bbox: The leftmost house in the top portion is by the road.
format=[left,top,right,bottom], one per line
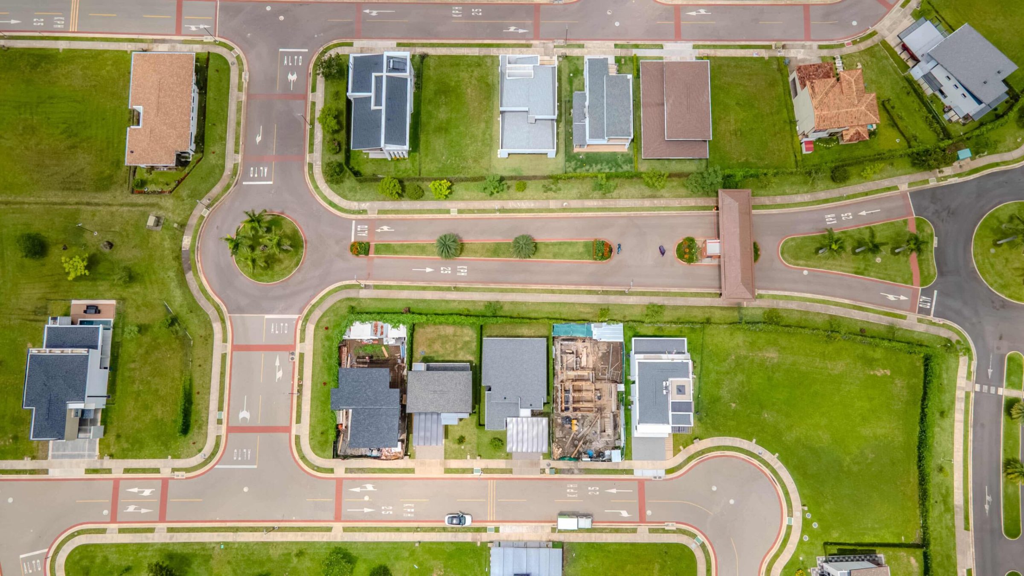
[125,52,200,192]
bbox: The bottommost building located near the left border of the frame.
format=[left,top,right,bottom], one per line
[23,300,118,440]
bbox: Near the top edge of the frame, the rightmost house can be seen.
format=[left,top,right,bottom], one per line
[890,17,1019,125]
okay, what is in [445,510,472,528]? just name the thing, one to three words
car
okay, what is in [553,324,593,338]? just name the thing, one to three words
shed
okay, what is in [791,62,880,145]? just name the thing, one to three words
house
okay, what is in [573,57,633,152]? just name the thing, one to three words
house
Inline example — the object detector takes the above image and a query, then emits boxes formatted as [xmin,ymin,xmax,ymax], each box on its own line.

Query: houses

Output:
[890,17,1019,125]
[23,300,118,440]
[640,61,711,161]
[498,55,557,160]
[125,52,200,192]
[627,338,693,457]
[482,337,548,452]
[490,538,562,576]
[791,62,880,145]
[330,368,402,448]
[347,52,413,161]
[573,57,633,152]
[811,554,890,576]
[406,363,472,446]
